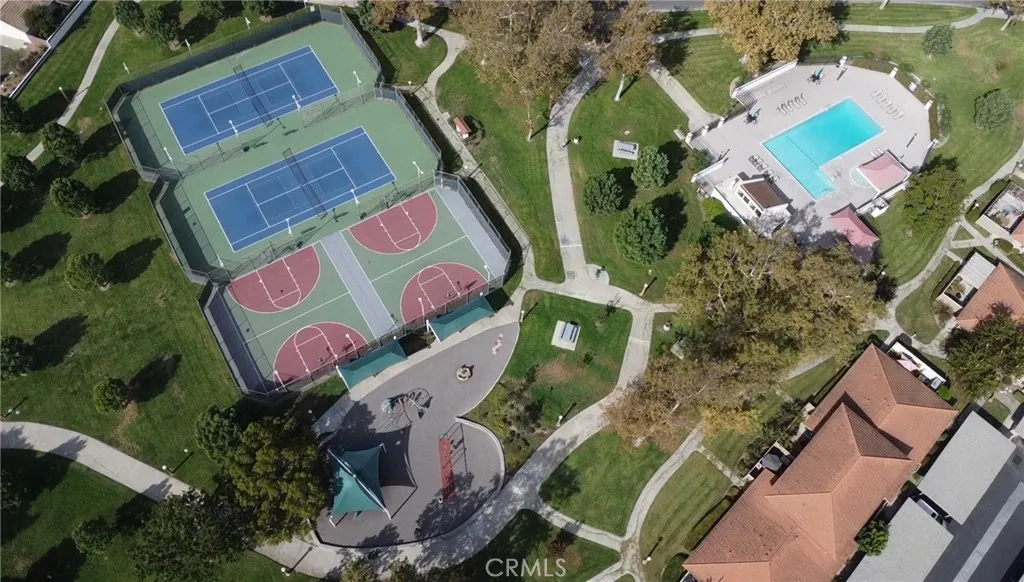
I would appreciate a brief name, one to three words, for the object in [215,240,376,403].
basketball court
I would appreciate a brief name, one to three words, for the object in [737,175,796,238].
building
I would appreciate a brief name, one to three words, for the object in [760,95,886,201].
swimming pool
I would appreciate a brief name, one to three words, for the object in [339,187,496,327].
basketball court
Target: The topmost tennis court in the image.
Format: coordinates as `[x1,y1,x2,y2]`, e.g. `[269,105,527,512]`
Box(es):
[117,23,376,183]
